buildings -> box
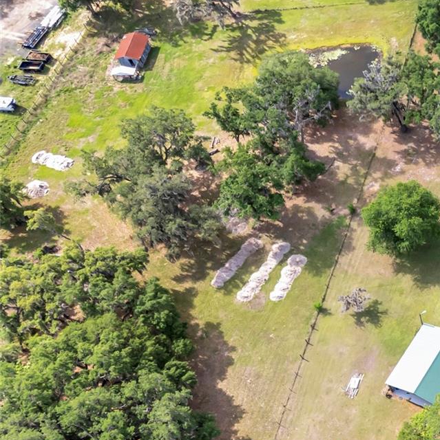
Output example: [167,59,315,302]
[385,325,440,415]
[112,29,154,74]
